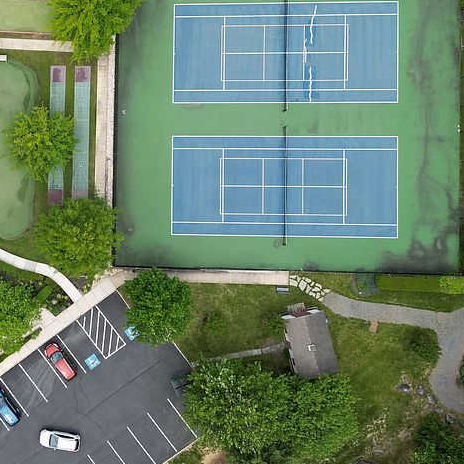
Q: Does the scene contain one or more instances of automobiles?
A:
Yes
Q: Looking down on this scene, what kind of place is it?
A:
sports ground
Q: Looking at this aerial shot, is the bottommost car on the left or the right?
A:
left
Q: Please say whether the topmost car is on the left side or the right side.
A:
left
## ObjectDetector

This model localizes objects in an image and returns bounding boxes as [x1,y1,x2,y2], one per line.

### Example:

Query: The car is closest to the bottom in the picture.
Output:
[38,427,82,450]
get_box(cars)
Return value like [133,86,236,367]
[43,341,78,380]
[38,427,82,450]
[0,385,23,427]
